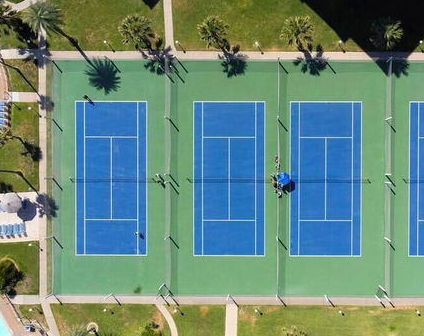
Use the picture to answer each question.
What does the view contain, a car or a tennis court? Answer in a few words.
tennis court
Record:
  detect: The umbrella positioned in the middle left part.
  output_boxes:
[1,192,22,212]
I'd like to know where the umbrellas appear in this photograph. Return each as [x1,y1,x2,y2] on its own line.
[278,172,289,185]
[1,192,22,212]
